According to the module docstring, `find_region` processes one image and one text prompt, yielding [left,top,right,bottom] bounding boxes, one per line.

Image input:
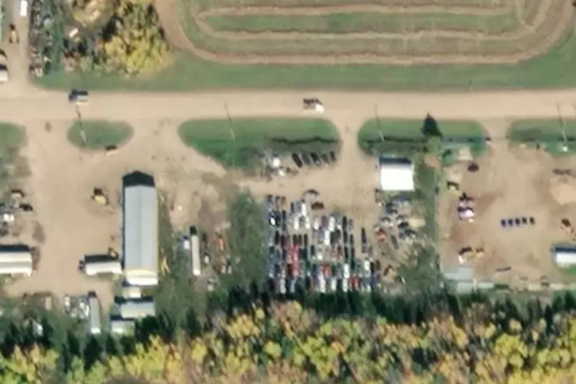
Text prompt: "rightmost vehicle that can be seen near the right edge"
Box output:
[559,216,576,237]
